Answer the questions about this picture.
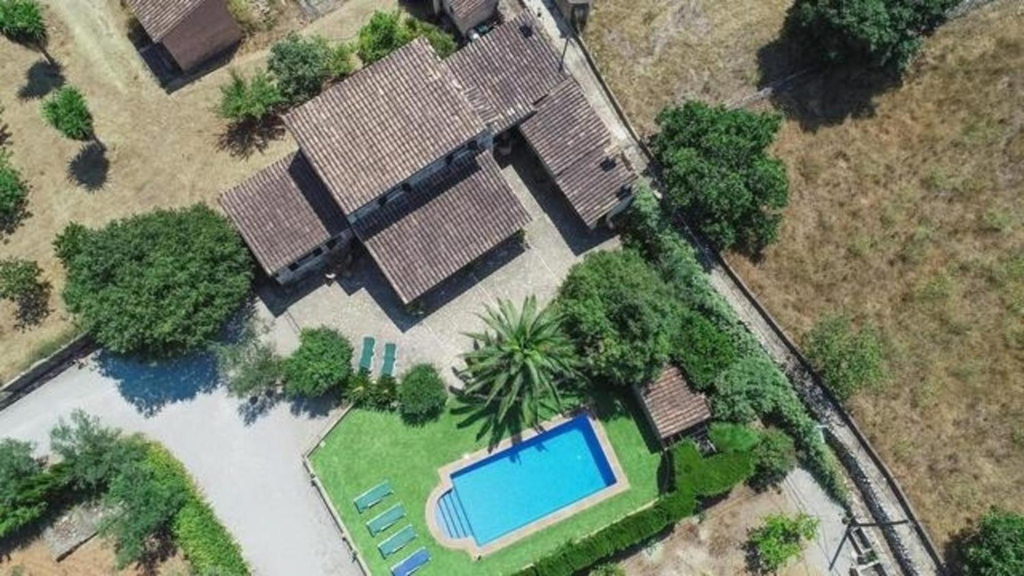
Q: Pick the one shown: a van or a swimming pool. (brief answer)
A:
swimming pool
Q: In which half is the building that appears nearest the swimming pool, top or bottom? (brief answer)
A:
bottom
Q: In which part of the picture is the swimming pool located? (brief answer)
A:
bottom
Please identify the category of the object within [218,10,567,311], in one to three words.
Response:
house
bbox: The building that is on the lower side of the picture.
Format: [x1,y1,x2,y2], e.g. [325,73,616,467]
[629,354,711,441]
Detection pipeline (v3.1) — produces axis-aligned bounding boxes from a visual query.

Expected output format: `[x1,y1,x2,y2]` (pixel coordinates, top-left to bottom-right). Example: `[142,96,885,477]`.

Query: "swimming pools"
[426,399,630,560]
